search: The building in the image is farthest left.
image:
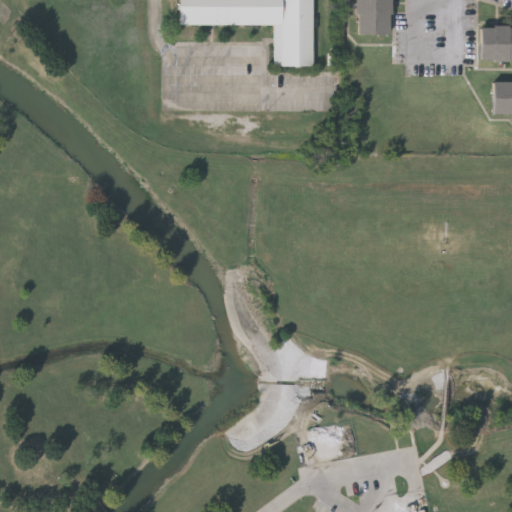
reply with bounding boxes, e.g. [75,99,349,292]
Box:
[180,0,314,66]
